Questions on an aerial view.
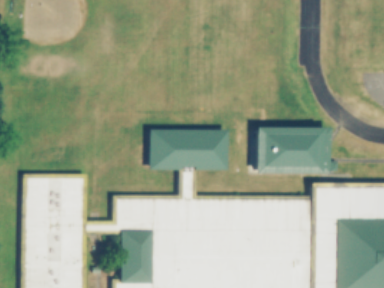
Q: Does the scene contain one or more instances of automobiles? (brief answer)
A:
No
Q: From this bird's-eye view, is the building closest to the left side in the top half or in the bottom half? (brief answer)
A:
bottom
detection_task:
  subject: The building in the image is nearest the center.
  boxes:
[149,129,229,171]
